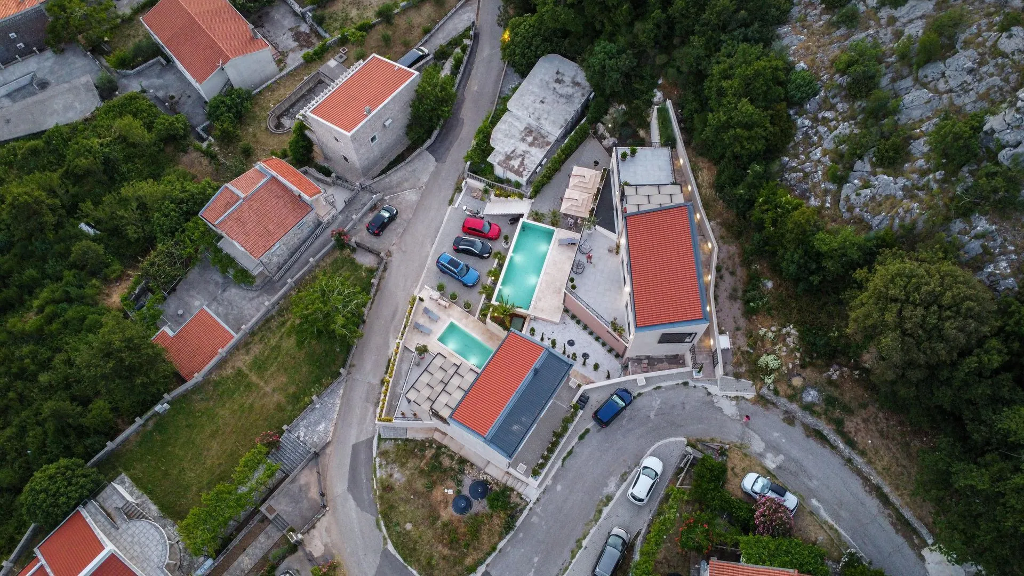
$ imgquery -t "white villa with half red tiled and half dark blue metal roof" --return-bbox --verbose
[448,329,575,467]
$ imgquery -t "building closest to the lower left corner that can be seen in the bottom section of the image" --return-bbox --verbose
[15,504,154,576]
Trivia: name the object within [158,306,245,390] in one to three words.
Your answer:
shed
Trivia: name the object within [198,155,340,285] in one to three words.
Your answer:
house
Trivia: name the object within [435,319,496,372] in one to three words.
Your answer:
swimming pool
